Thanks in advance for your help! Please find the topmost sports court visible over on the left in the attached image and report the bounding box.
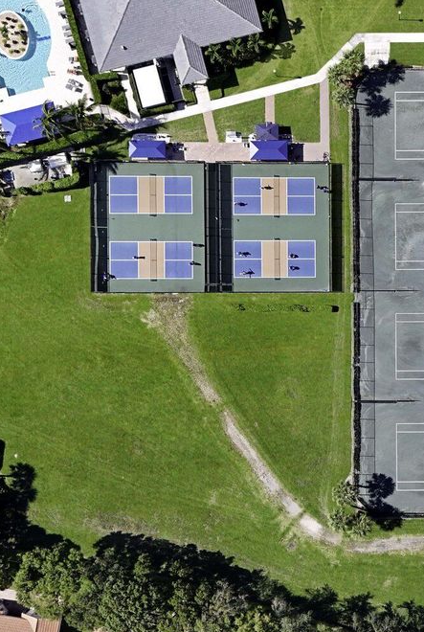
[95,163,204,227]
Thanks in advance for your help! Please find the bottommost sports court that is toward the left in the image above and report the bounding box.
[95,227,204,292]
